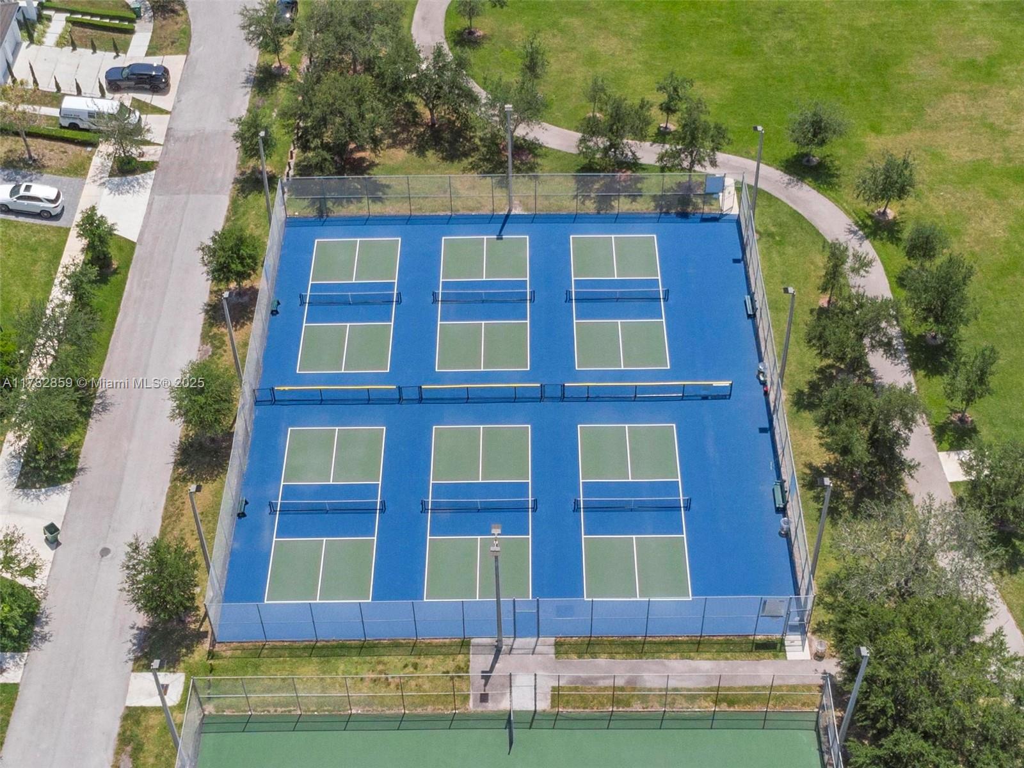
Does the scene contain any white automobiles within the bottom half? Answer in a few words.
No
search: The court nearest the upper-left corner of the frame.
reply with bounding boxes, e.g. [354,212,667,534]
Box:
[297,240,400,374]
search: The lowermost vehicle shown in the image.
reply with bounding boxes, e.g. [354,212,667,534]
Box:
[0,182,66,218]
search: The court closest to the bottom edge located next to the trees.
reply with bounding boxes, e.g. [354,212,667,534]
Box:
[195,709,827,768]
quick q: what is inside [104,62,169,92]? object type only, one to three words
car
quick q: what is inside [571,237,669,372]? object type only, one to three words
sports court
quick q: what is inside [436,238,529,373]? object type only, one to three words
sports court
